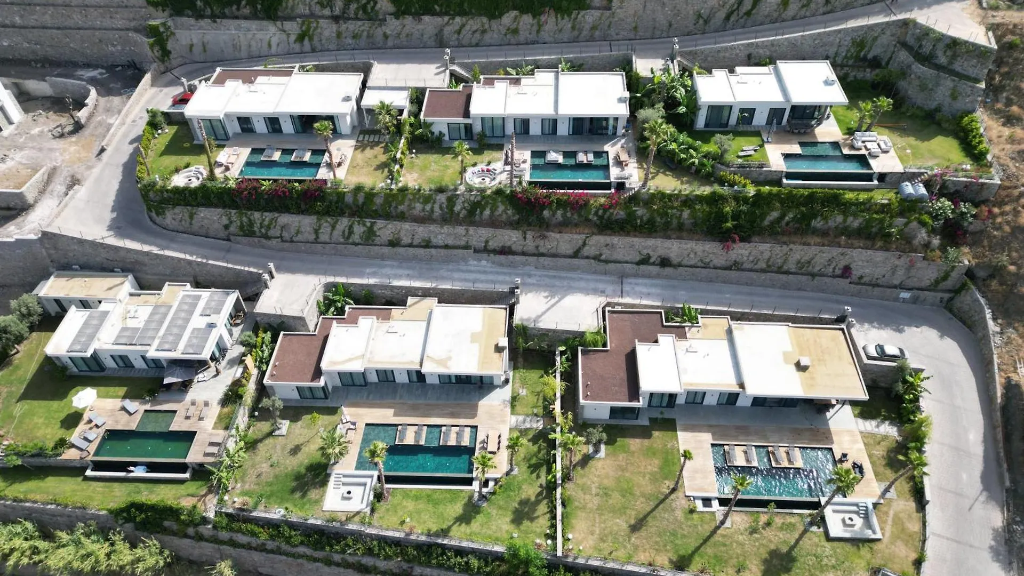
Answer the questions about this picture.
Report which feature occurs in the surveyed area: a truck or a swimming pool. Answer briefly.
swimming pool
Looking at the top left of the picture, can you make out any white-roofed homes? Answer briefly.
Yes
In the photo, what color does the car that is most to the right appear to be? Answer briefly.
white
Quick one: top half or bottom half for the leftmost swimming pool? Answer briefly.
bottom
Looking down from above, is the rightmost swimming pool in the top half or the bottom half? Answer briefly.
top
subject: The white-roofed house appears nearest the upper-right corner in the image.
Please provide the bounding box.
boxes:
[686,57,853,127]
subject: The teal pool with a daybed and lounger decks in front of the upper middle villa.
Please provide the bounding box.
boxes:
[530,150,611,204]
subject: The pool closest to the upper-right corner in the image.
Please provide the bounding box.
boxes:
[781,142,882,195]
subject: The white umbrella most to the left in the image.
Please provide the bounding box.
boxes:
[70,388,100,412]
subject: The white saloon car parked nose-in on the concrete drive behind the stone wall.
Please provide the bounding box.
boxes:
[863,342,912,363]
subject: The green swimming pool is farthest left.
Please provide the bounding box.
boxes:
[84,410,197,484]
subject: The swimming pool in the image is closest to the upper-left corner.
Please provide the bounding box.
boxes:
[237,148,325,188]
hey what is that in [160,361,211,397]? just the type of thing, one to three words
umbrella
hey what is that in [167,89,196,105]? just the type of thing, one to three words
car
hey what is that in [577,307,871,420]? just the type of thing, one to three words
house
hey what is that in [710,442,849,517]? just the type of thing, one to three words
swimming pool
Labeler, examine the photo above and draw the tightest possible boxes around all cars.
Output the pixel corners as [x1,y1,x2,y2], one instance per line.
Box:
[863,342,912,363]
[167,89,196,105]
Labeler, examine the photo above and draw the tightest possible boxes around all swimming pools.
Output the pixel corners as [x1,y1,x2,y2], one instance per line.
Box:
[530,150,611,204]
[84,410,197,484]
[237,148,325,188]
[355,423,477,491]
[781,142,882,195]
[710,442,849,517]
